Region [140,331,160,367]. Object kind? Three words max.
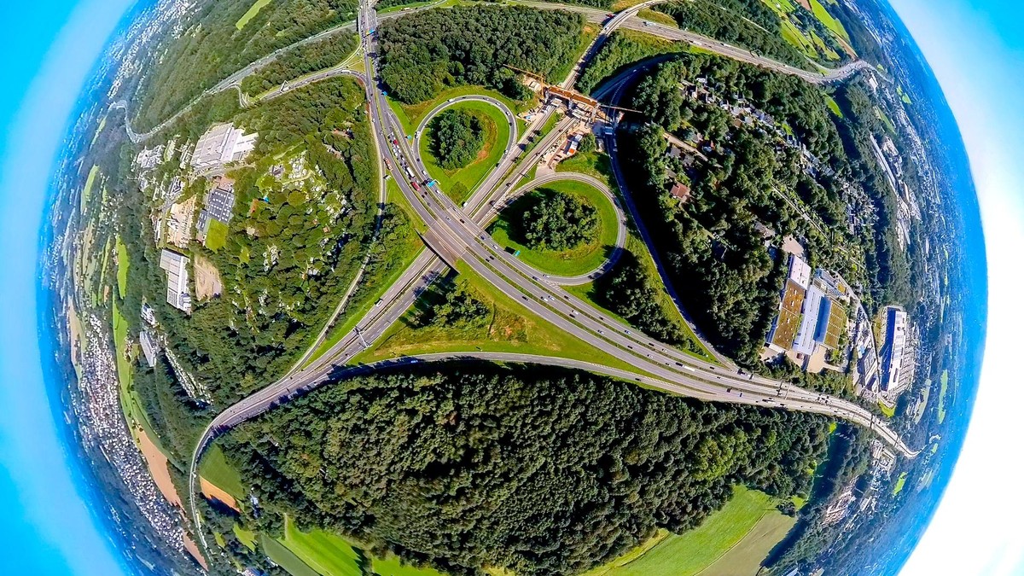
building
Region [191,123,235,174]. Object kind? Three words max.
building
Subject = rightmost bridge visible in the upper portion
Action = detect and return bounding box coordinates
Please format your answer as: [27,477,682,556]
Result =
[544,86,597,113]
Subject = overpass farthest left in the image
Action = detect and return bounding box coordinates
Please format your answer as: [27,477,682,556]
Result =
[414,205,490,274]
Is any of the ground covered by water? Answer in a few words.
No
